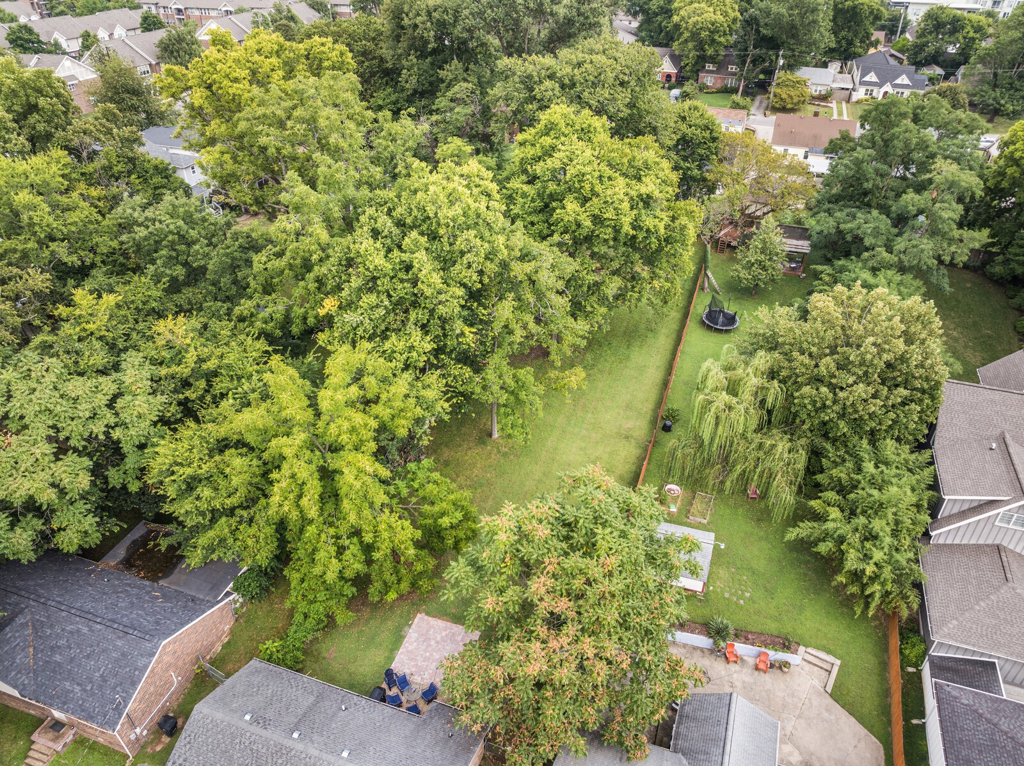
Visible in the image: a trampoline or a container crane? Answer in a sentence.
The one in the frame is a trampoline.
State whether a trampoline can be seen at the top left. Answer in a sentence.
No, no trampoline can be made out at the top left.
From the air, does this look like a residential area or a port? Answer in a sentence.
This image shows a residential area.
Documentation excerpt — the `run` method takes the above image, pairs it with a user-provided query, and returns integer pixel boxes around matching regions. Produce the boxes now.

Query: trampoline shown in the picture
[703,297,747,344]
